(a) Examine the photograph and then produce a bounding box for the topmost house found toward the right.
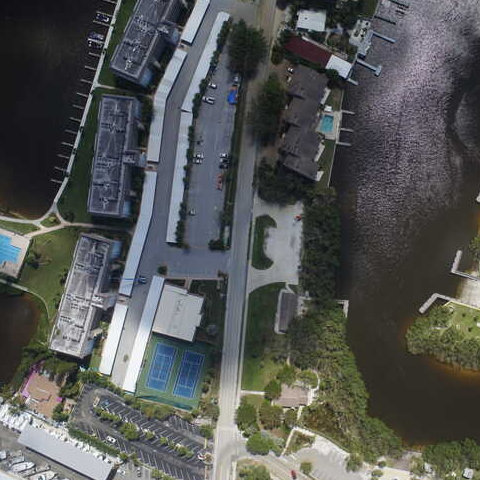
[298,9,327,34]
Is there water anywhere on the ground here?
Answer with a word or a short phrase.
Yes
